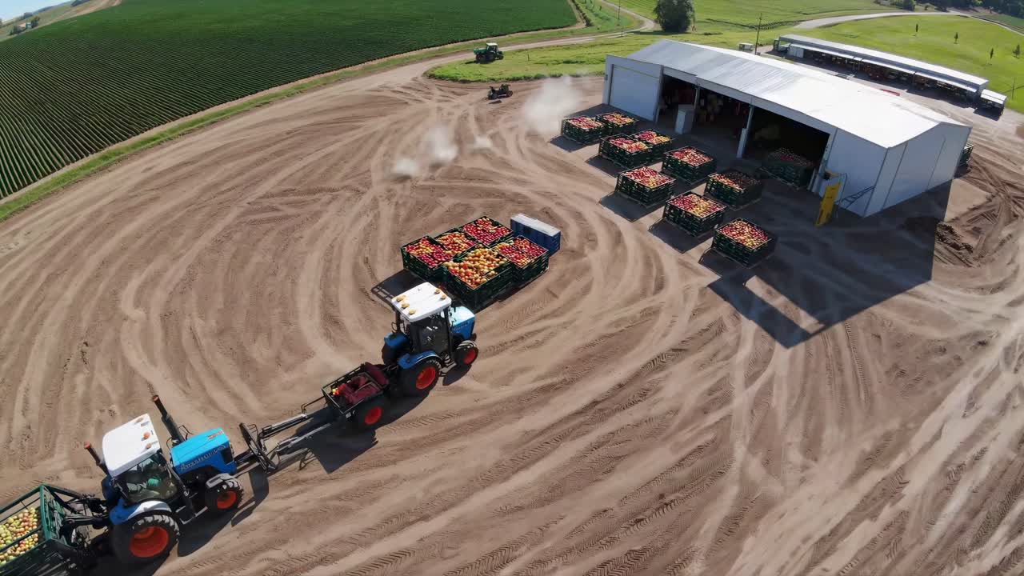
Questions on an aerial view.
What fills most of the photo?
paved ground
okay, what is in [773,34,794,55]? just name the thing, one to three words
truck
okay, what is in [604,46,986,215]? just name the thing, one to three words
barn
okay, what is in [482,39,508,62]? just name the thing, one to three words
work vehicle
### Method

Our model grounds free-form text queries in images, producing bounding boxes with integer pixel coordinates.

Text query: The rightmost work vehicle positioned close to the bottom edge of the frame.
[72,402,247,556]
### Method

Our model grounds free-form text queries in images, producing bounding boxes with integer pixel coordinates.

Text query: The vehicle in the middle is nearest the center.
[375,286,474,391]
